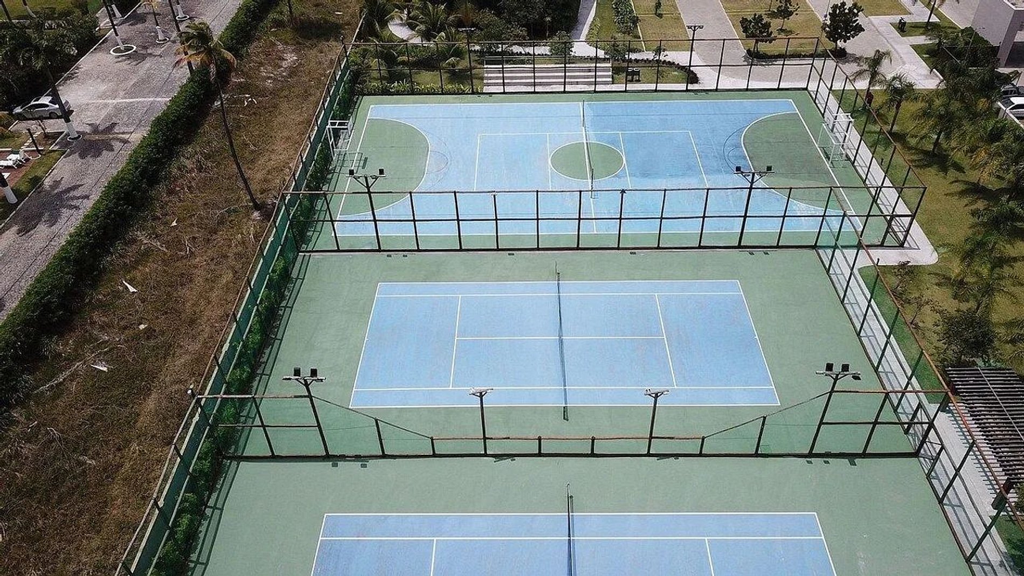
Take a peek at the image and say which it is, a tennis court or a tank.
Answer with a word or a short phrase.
tennis court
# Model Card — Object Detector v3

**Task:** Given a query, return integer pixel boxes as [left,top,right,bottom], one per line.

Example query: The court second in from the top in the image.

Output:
[231,248,913,453]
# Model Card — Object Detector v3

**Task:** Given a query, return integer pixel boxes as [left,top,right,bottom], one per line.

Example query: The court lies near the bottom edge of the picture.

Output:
[185,456,974,576]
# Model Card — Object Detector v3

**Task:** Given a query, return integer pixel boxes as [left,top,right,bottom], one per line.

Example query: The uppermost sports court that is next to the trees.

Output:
[304,89,901,249]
